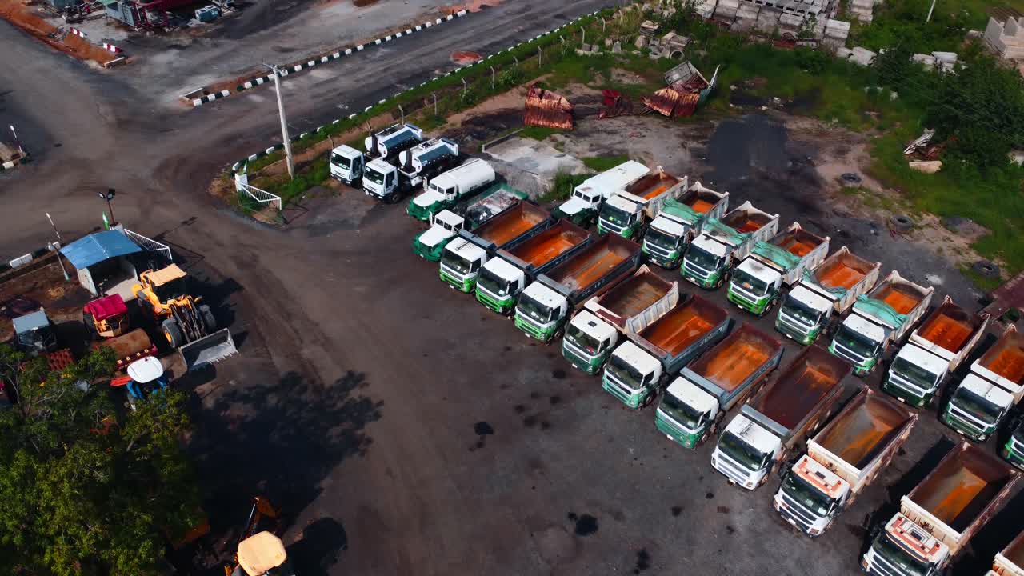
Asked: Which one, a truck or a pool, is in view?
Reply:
truck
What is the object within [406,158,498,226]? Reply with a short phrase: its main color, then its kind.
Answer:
white truck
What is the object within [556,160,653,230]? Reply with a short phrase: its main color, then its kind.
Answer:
white truck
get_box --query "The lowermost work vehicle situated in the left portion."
[223,501,292,576]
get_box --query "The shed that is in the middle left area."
[60,230,140,295]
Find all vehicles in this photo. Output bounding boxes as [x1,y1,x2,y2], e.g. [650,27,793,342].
[681,200,780,289]
[12,307,92,379]
[79,295,156,369]
[438,202,550,293]
[560,265,680,374]
[556,160,653,230]
[654,325,782,447]
[942,324,1024,443]
[474,219,588,314]
[120,262,244,374]
[712,345,855,489]
[775,390,915,533]
[406,158,498,226]
[883,296,991,408]
[513,233,642,341]
[223,501,292,576]
[726,222,830,314]
[829,269,935,374]
[775,246,881,345]
[412,187,523,265]
[128,361,181,424]
[641,182,733,267]
[330,120,424,185]
[597,164,689,242]
[602,294,728,408]
[865,442,1018,576]
[363,134,460,201]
